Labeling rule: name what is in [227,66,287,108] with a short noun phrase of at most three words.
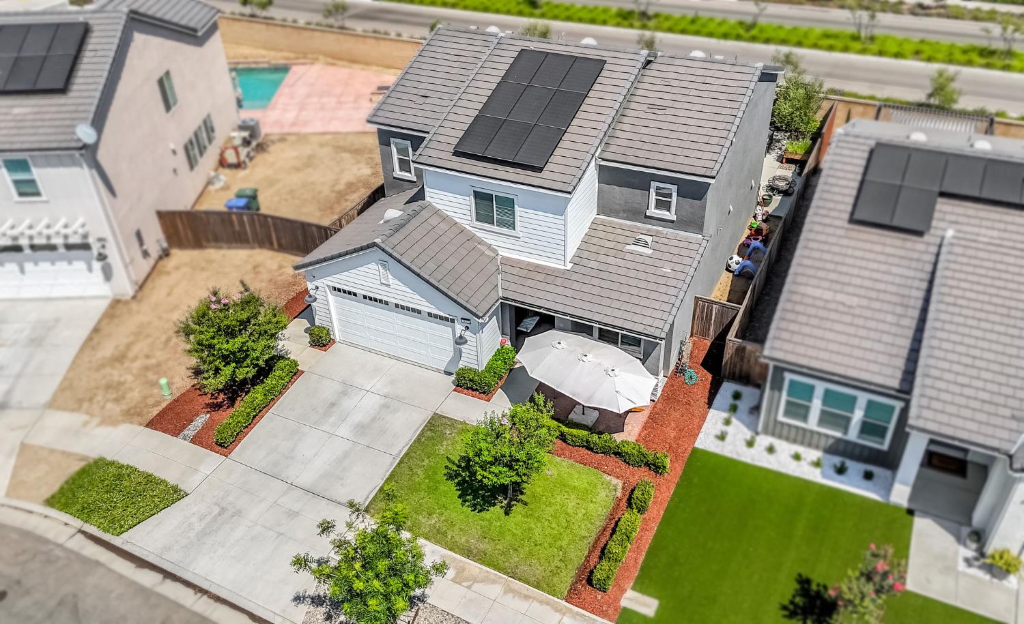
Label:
swimming pool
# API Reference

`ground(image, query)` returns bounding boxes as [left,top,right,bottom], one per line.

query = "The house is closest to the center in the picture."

[291,23,786,404]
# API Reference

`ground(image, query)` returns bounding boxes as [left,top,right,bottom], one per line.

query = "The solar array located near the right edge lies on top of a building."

[851,144,1024,235]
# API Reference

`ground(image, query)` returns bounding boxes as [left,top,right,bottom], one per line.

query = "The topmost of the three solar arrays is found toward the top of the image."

[0,20,87,92]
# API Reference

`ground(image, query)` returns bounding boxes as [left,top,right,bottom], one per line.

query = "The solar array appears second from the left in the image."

[455,50,605,170]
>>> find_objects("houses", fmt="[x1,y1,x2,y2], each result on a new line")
[0,0,240,302]
[757,113,1024,553]
[291,23,786,404]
